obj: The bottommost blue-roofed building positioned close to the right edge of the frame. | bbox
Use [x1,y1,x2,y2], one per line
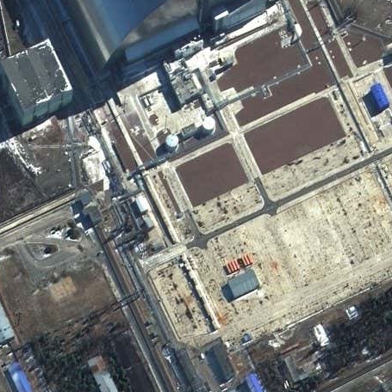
[370,84,389,115]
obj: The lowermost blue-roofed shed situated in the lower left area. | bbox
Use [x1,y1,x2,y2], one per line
[8,363,32,392]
